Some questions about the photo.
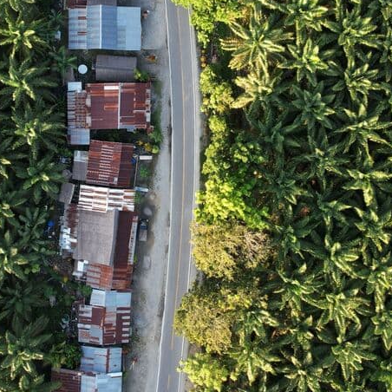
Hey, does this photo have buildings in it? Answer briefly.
Yes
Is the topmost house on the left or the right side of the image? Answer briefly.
left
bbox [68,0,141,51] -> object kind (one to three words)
house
